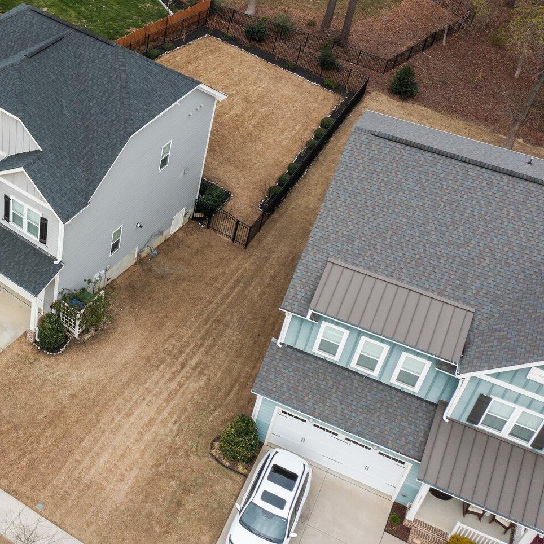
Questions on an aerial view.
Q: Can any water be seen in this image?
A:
No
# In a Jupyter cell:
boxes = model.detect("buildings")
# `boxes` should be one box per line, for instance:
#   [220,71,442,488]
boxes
[0,0,227,353]
[247,111,544,544]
